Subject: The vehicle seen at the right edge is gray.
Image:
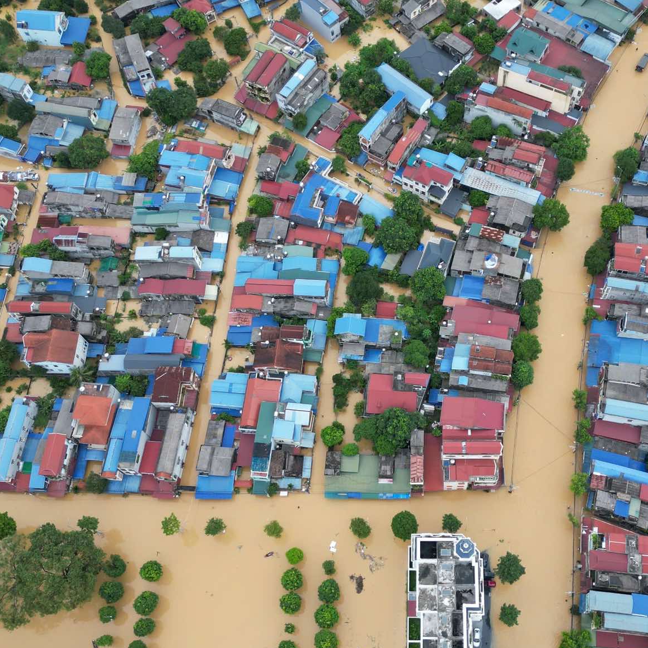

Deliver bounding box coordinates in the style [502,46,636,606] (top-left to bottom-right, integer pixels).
[632,53,648,77]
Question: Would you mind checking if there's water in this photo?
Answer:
Yes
